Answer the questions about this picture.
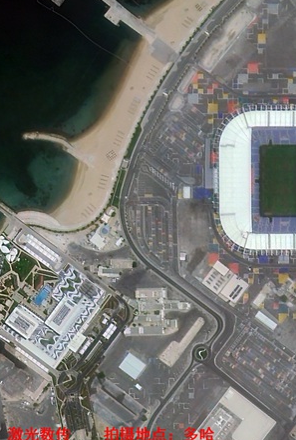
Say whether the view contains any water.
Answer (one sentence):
Yes, water shows up in the scene.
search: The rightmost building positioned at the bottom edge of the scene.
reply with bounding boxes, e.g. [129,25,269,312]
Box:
[221,386,279,440]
